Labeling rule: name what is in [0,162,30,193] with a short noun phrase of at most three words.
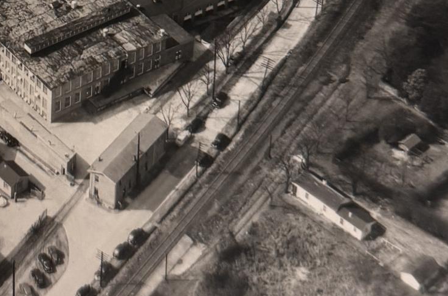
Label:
shed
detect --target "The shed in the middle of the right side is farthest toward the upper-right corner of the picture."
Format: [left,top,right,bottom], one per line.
[392,132,421,158]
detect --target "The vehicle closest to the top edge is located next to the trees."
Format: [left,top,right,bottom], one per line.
[208,89,231,106]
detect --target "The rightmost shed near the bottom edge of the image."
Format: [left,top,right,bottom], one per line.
[395,252,442,294]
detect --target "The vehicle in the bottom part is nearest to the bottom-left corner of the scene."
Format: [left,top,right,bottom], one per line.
[17,281,38,296]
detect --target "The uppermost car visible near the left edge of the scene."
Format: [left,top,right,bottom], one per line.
[0,128,20,146]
